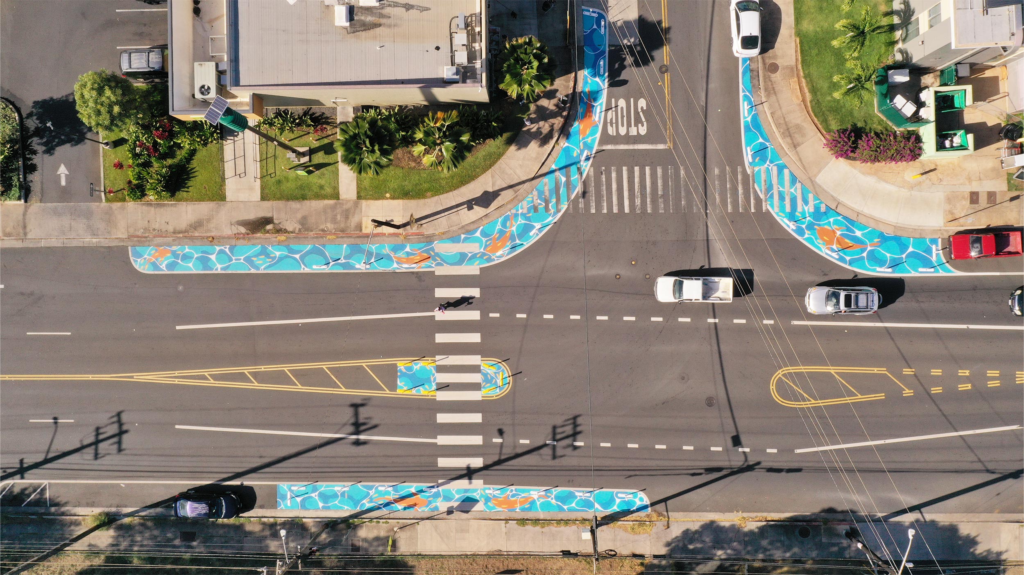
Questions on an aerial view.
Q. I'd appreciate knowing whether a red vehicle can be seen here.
Yes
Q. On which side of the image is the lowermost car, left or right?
left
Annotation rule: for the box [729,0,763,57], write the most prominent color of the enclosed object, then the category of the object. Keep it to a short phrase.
white car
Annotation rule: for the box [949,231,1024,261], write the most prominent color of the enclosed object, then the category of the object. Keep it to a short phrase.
red truck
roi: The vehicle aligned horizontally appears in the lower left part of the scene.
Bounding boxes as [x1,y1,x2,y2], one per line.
[174,491,244,524]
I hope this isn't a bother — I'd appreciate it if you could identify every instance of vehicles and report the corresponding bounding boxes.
[729,0,763,57]
[949,231,1024,261]
[804,284,884,317]
[1008,287,1024,315]
[651,273,733,306]
[174,491,244,524]
[122,48,167,81]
